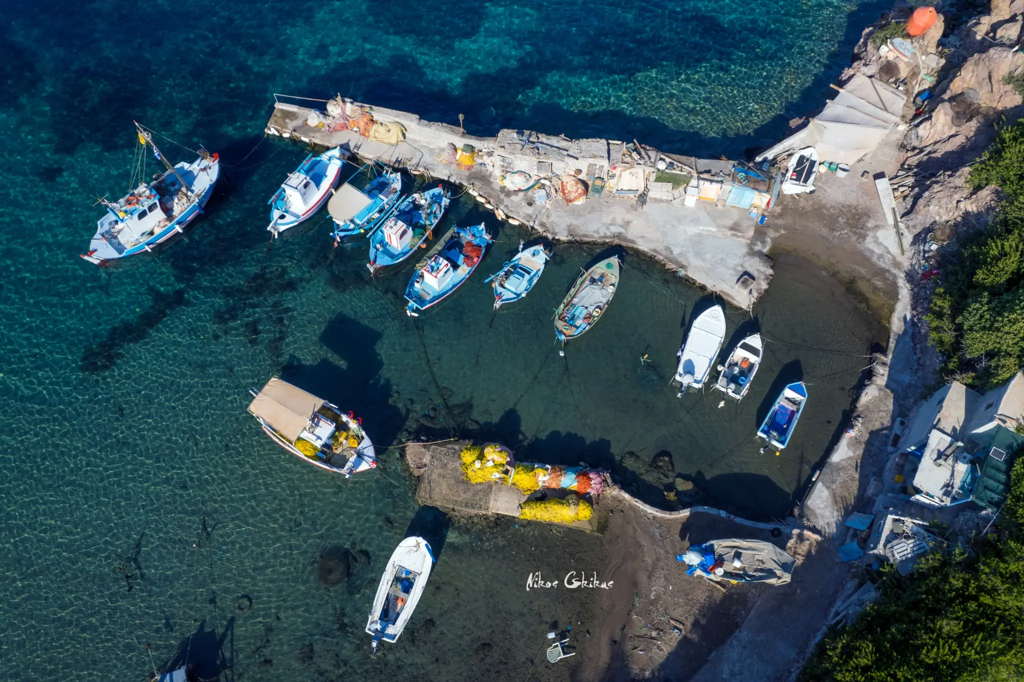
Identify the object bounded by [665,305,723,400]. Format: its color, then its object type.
white boat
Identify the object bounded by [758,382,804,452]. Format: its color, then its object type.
blue boat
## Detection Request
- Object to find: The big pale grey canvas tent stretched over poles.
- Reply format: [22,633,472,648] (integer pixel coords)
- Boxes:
[757,72,907,167]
